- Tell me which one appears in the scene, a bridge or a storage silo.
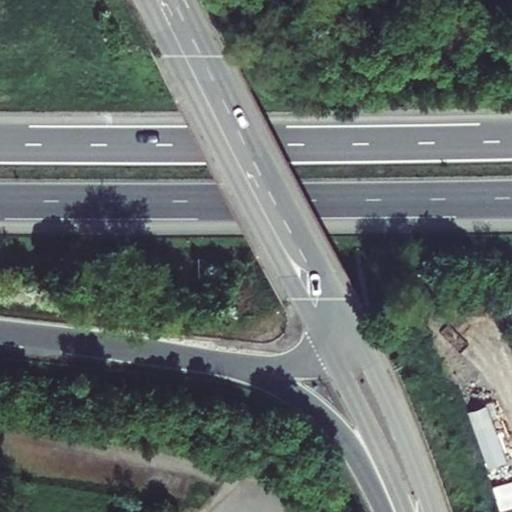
bridge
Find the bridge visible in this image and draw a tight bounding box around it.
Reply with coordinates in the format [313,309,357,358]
[152,56,358,300]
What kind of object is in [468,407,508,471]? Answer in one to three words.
shed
